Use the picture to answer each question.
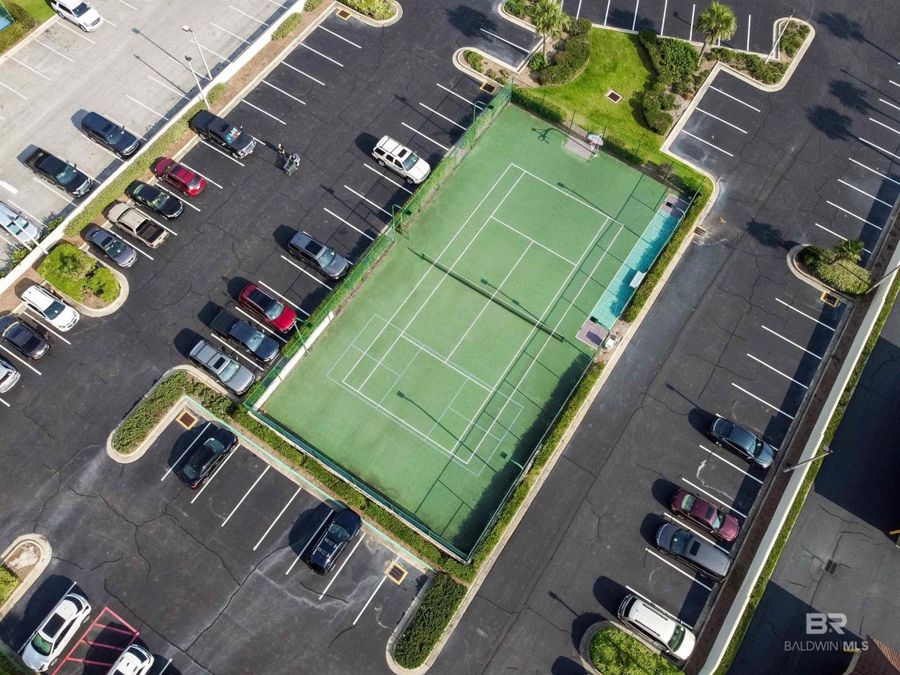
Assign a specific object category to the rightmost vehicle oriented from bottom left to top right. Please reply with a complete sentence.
I'd identify the rightmost vehicle oriented from bottom left to top right as an automobile.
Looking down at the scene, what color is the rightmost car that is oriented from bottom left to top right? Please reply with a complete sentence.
The rightmost car that is oriented from bottom left to top right is black.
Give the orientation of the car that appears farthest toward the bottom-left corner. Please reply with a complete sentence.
In this picture, the car that appears farthest toward the bottom-left corner lies on a diagonal.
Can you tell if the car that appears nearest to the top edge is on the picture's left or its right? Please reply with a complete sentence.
You can find the car that appears nearest to the top edge on the left side of the picture.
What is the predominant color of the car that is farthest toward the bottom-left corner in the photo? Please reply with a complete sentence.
The car that is farthest toward the bottom-left corner looks white in the image.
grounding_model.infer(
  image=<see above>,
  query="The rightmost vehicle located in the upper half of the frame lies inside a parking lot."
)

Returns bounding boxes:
[370,135,430,183]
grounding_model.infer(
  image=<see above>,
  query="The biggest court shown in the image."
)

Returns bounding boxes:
[258,103,691,562]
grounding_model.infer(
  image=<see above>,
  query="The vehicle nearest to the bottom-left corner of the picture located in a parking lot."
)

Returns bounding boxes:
[22,592,95,673]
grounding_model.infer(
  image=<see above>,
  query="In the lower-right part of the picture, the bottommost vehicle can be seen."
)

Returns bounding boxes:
[616,592,694,661]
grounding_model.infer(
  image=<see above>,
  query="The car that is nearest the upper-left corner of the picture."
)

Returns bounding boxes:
[50,0,105,35]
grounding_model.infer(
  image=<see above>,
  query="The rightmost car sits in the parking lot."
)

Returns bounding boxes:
[703,417,771,470]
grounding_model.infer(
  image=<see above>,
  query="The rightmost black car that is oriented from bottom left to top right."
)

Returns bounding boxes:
[300,507,363,582]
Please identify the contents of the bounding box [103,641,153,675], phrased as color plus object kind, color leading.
white car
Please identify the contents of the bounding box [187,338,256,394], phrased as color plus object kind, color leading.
gray car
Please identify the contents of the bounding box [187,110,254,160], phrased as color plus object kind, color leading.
black truck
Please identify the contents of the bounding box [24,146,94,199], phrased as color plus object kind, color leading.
black truck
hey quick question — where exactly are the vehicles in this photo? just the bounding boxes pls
[666,488,736,541]
[103,641,153,675]
[83,226,141,272]
[370,135,430,183]
[50,0,105,35]
[19,285,83,335]
[78,108,140,156]
[152,158,207,200]
[0,350,27,390]
[178,426,239,490]
[22,592,95,673]
[0,310,53,361]
[300,507,363,582]
[238,283,299,332]
[616,592,694,661]
[287,231,348,280]
[187,338,256,394]
[187,110,254,160]
[126,178,183,221]
[102,200,172,250]
[703,417,771,470]
[652,522,731,582]
[208,306,280,363]
[24,146,94,199]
